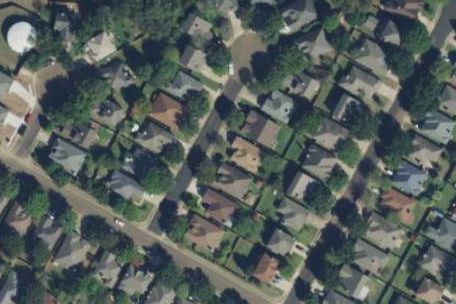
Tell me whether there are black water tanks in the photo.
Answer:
No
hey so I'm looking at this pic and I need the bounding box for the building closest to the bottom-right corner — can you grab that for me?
[414,274,446,304]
